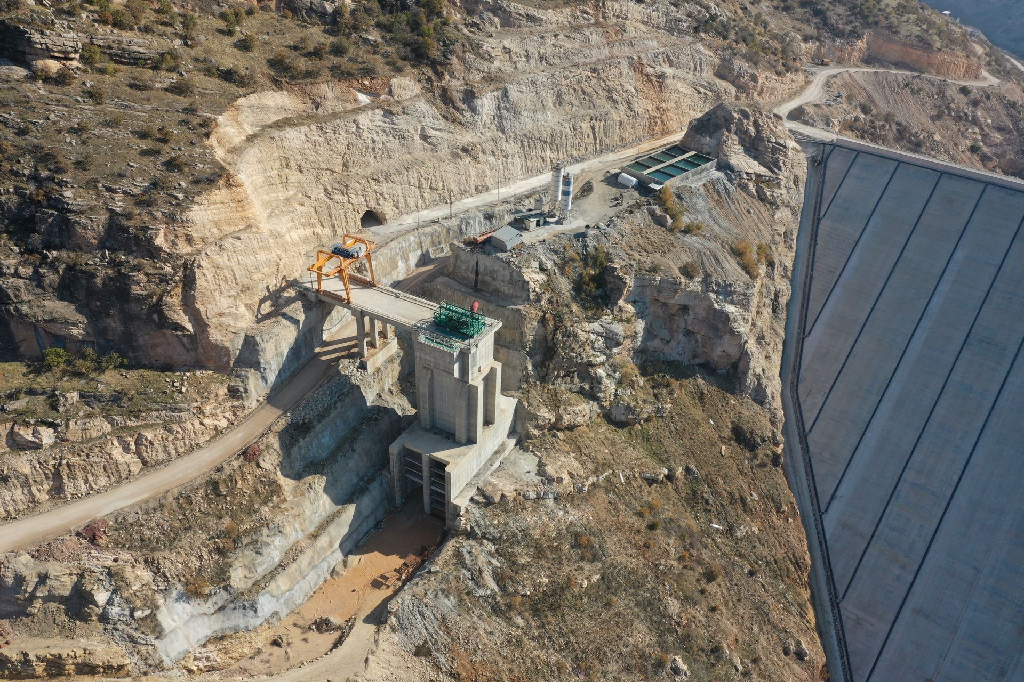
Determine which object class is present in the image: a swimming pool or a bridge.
bridge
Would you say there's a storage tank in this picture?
Yes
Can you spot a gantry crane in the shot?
Yes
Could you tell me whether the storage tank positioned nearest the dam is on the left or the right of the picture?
right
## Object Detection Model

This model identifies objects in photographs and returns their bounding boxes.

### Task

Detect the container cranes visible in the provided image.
[306,234,377,303]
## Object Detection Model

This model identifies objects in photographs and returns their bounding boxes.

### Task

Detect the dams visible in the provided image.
[780,121,1024,682]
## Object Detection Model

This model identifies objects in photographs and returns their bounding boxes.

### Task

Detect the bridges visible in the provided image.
[313,273,502,378]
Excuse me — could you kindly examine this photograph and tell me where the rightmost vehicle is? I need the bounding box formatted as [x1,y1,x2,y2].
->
[812,53,831,65]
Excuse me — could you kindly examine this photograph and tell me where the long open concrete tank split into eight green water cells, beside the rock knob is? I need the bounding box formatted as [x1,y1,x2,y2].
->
[621,145,717,193]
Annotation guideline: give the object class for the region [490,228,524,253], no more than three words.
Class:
shed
